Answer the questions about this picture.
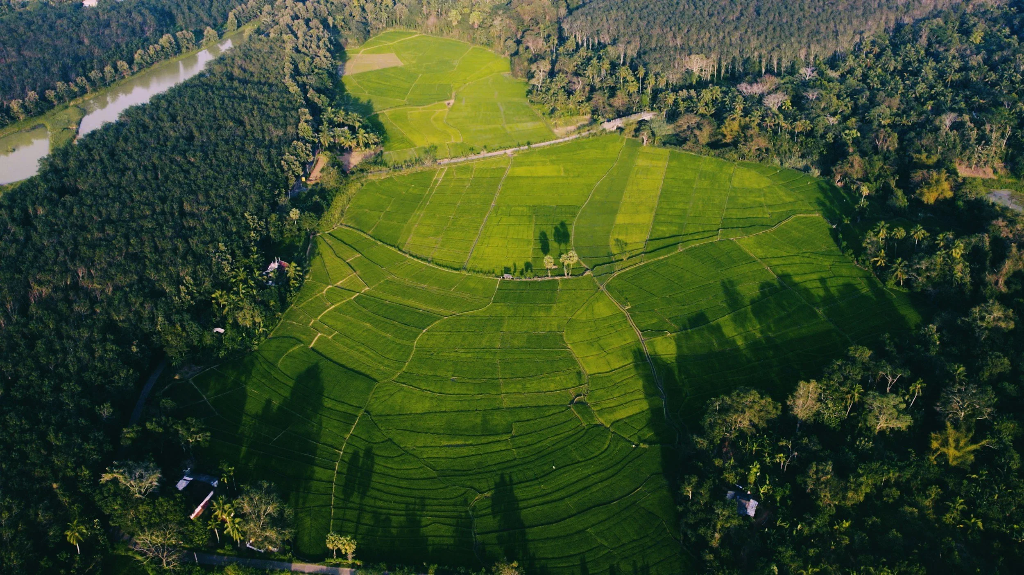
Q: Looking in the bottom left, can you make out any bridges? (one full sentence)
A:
No, in the bottom left there is no bridge.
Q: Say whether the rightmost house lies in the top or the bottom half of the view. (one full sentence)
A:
The rightmost house sits in the bottom half of the picture.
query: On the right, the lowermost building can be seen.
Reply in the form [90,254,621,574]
[727,492,758,526]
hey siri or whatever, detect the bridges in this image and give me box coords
[588,108,672,133]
